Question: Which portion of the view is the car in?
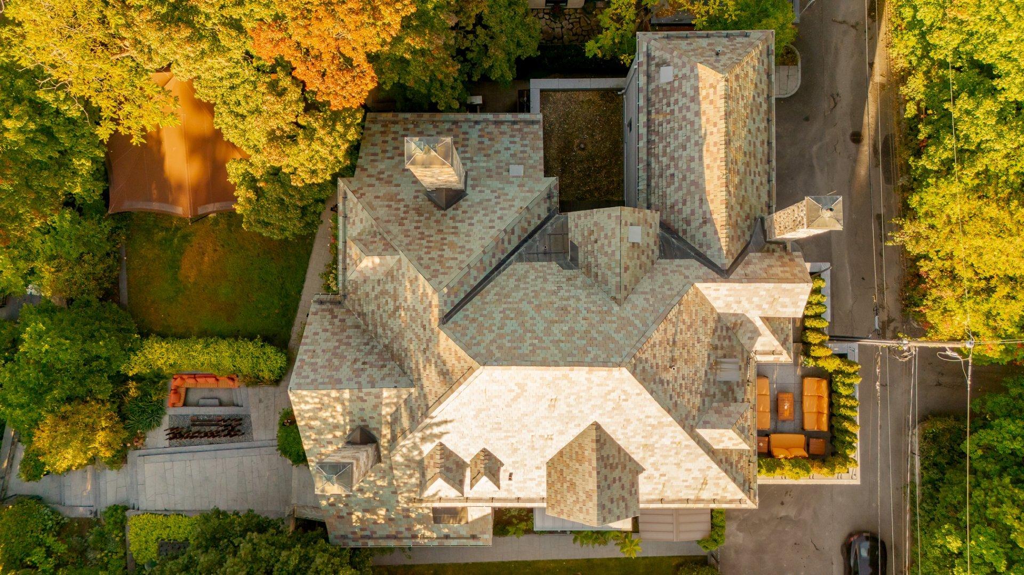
bottom right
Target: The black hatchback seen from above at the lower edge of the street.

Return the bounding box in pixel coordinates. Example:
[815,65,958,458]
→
[837,529,887,575]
